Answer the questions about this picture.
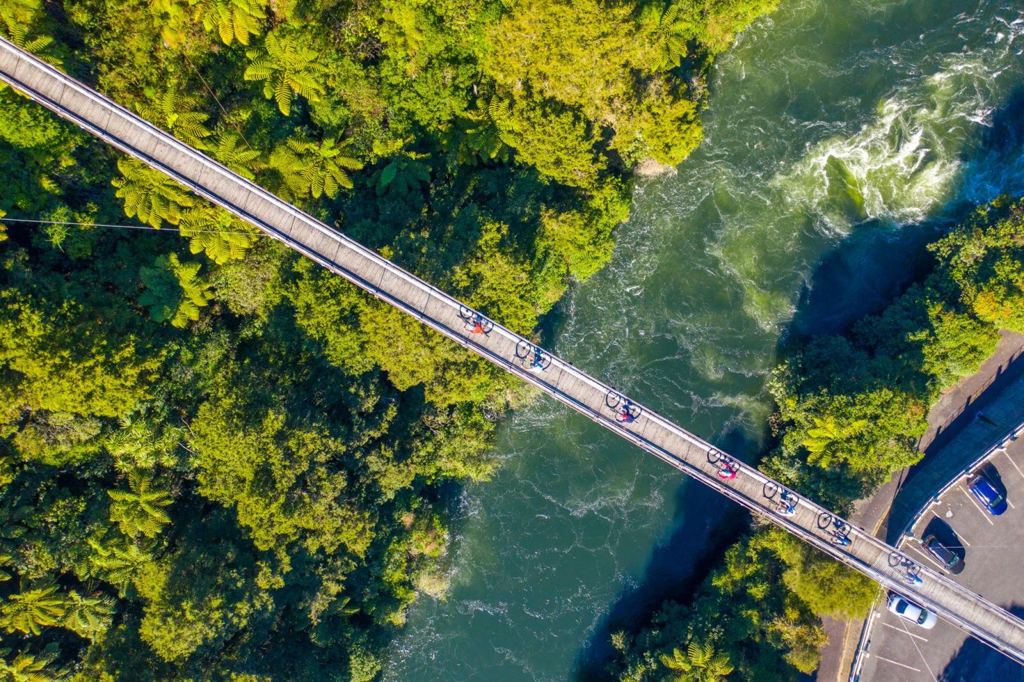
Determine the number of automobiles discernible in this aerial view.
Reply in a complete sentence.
In total, there are 3 automobiles in the scene.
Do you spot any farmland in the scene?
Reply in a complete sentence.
No, the picture contains no farmland.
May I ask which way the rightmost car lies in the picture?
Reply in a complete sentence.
In this picture, the rightmost car lies on a diagonal.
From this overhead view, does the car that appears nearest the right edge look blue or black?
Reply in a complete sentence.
The color of the car that appears nearest the right edge is blue.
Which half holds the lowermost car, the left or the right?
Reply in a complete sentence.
The lowermost car appears in the right half of the scene.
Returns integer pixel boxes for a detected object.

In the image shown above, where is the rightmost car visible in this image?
[965,473,1005,516]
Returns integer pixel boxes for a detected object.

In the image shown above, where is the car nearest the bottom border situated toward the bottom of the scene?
[884,592,936,630]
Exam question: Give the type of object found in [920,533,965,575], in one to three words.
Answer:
car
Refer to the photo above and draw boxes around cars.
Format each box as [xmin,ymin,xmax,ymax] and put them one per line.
[965,473,1005,516]
[884,592,936,630]
[920,533,965,575]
